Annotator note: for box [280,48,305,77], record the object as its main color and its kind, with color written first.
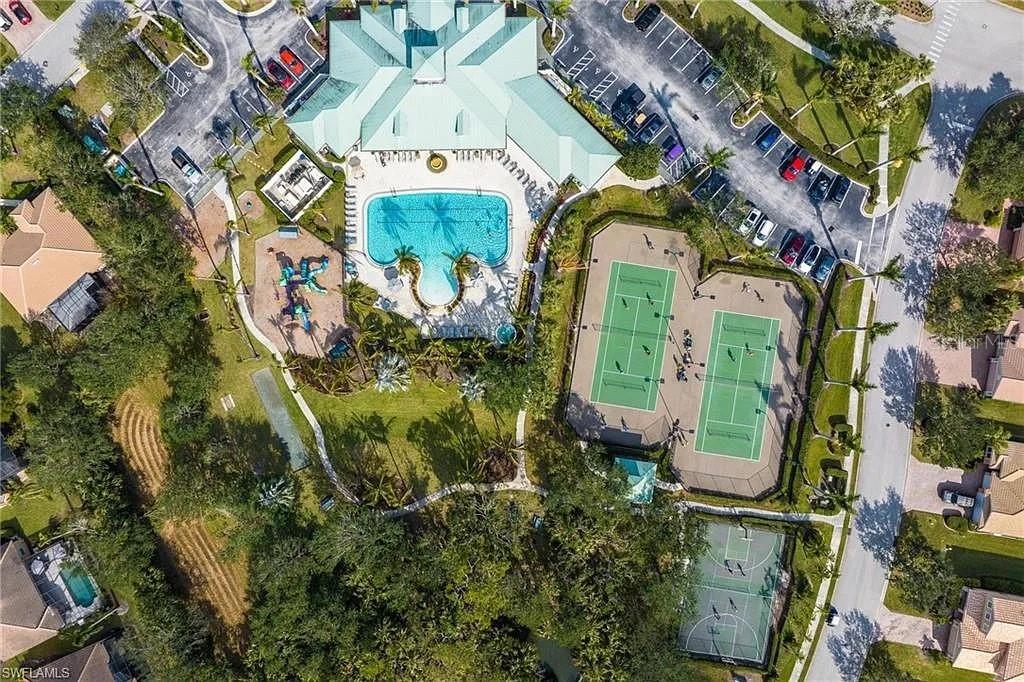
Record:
red car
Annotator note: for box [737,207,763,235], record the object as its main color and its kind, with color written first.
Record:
white car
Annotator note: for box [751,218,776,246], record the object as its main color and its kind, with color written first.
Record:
white car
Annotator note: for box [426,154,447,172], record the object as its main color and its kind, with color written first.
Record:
yellow fountain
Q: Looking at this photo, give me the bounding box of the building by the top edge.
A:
[288,0,622,188]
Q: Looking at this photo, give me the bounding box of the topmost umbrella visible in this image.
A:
[352,165,365,178]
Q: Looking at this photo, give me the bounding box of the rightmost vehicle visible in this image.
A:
[940,489,976,507]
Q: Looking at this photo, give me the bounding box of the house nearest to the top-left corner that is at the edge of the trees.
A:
[0,187,111,333]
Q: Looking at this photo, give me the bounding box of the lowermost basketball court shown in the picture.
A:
[674,517,782,660]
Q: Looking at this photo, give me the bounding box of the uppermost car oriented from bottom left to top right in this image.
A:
[634,3,660,32]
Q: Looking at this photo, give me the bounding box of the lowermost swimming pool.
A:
[58,564,99,609]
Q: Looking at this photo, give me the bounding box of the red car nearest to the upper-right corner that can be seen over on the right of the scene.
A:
[779,152,804,183]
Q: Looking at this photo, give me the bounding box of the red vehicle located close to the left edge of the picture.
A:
[9,0,33,26]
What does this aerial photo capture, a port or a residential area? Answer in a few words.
residential area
